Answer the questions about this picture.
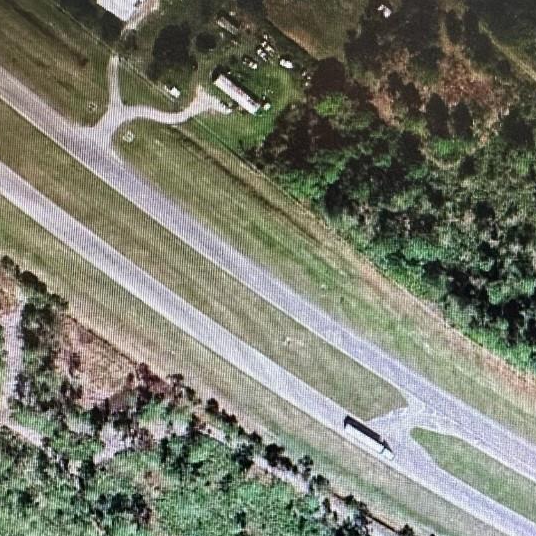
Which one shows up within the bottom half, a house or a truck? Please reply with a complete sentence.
The feature located within the bottom half is a truck.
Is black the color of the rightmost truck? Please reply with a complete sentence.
No, the rightmost truck is white.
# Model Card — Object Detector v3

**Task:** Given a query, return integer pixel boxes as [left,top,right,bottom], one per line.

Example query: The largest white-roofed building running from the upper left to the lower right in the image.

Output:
[214,74,260,114]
